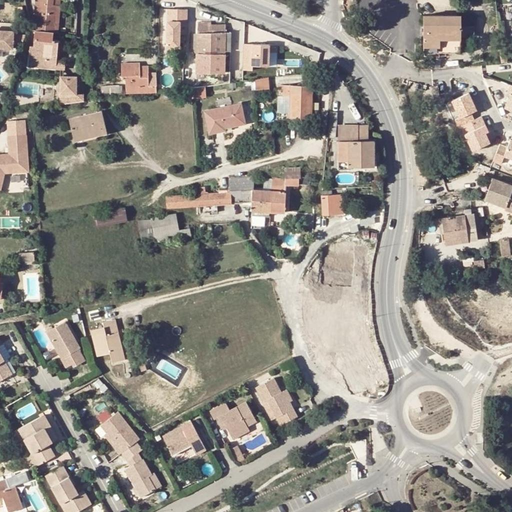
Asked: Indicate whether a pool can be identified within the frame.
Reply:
Yes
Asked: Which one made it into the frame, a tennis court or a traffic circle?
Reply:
traffic circle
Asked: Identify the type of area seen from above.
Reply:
residential area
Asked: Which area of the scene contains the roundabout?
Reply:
bottom right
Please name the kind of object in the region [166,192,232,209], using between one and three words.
building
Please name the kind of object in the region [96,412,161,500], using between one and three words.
house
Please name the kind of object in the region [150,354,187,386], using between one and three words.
swimming pool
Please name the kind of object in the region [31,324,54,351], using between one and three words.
swimming pool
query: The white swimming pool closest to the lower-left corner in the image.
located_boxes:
[25,481,51,512]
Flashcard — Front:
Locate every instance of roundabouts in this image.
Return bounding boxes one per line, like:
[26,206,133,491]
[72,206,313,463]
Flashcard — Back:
[388,370,474,456]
